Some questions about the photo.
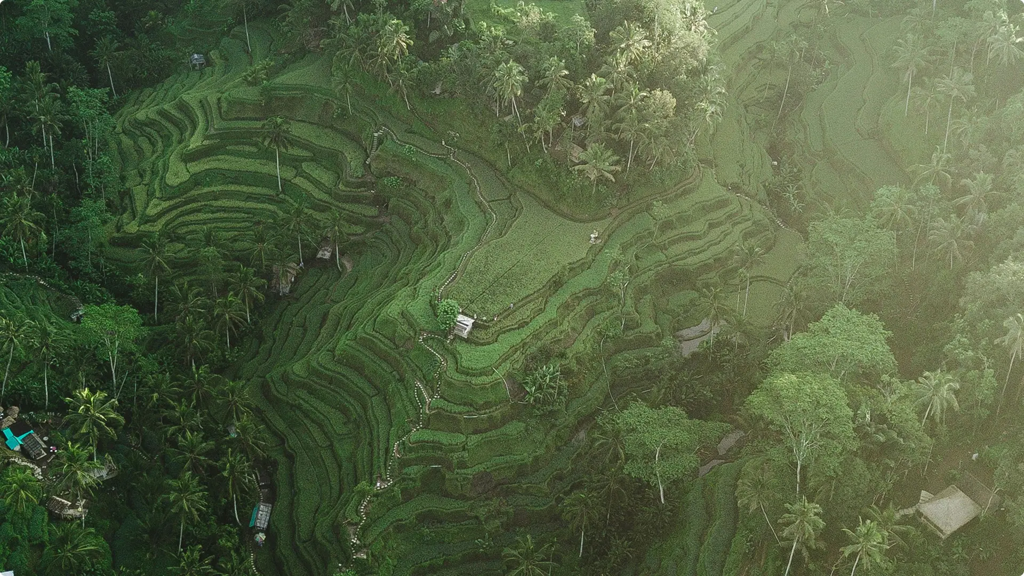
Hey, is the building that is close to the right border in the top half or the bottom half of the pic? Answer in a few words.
bottom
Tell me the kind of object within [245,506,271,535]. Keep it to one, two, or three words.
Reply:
shed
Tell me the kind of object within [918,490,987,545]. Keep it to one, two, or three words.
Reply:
building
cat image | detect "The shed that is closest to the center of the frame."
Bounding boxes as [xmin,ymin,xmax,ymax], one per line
[445,311,478,352]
